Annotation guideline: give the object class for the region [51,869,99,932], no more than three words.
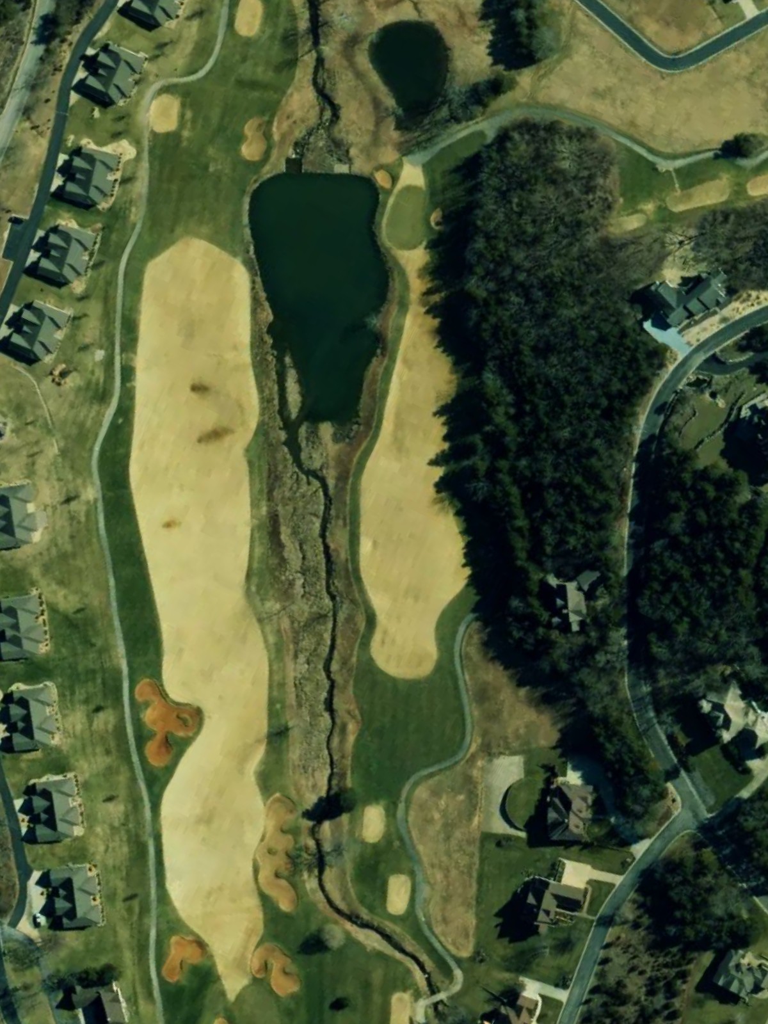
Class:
house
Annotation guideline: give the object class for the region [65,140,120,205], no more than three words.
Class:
house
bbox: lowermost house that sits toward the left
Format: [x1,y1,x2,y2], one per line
[70,990,124,1024]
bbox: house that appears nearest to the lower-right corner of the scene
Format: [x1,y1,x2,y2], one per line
[709,950,768,1009]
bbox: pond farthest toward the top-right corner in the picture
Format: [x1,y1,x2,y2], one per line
[369,20,451,120]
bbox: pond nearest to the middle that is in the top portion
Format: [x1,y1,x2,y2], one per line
[248,172,389,444]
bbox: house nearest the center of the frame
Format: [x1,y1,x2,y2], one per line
[546,568,605,633]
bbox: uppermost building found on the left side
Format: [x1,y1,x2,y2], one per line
[130,0,182,31]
